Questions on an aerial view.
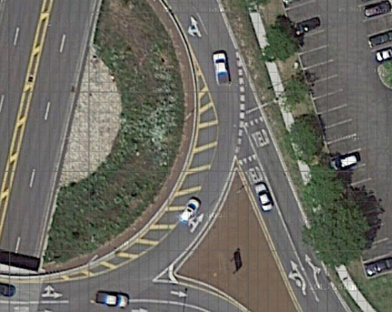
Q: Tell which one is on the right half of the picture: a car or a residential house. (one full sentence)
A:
There is a car on the right half of the picture.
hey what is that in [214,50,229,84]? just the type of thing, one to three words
vehicle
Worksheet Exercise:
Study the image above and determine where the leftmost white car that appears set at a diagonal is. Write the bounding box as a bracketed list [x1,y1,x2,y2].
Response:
[181,195,202,223]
